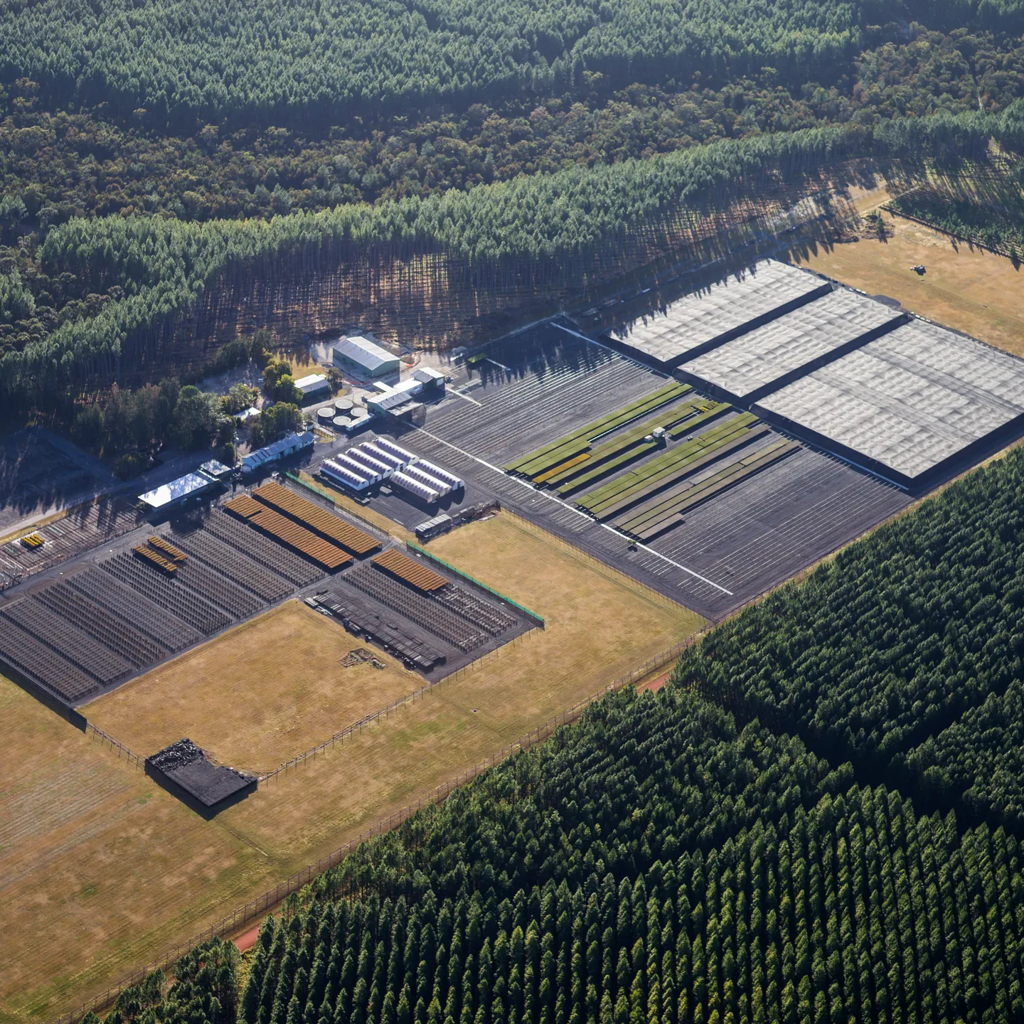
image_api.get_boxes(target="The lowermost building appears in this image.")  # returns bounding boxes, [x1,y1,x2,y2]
[145,737,258,811]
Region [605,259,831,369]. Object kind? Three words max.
house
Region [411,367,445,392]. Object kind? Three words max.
shed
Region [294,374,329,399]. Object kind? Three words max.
shed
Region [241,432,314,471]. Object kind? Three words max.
building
